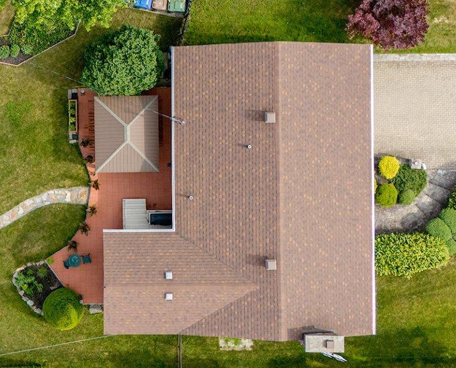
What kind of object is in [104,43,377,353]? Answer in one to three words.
house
